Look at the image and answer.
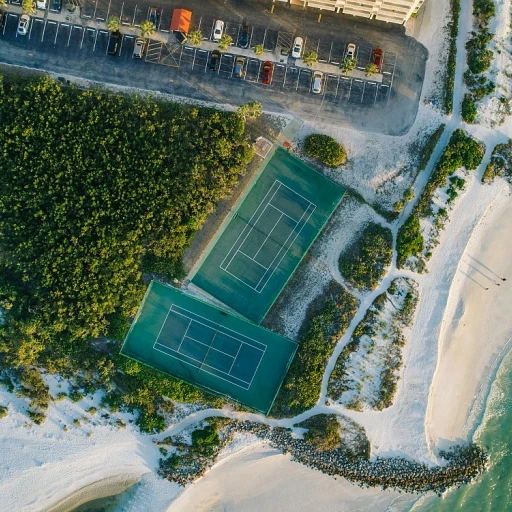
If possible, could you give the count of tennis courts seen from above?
2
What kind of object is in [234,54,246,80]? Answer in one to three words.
vehicle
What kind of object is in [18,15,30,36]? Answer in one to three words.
vehicle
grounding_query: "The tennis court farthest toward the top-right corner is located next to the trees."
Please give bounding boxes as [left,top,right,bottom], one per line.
[192,150,344,324]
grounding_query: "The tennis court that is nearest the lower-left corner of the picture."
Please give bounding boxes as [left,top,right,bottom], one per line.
[121,280,298,416]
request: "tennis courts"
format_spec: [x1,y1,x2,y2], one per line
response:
[121,280,298,416]
[192,150,344,324]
